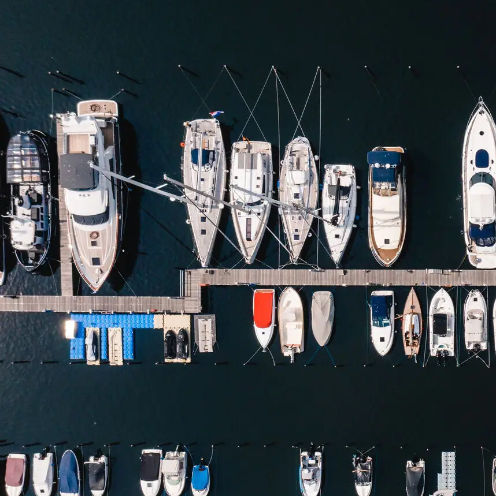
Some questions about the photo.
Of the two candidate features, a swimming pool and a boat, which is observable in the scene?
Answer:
boat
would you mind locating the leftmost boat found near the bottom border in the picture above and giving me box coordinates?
[4,454,30,496]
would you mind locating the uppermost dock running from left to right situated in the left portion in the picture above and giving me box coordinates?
[0,270,206,313]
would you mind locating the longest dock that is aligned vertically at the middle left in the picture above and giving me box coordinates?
[60,117,80,296]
